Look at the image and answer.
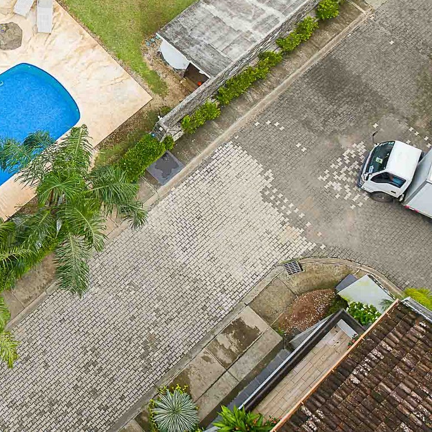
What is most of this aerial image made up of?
paved ground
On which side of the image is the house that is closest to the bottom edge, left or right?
right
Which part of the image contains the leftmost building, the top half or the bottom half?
top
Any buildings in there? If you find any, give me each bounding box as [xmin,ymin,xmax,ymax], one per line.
[157,0,302,101]
[210,290,432,432]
